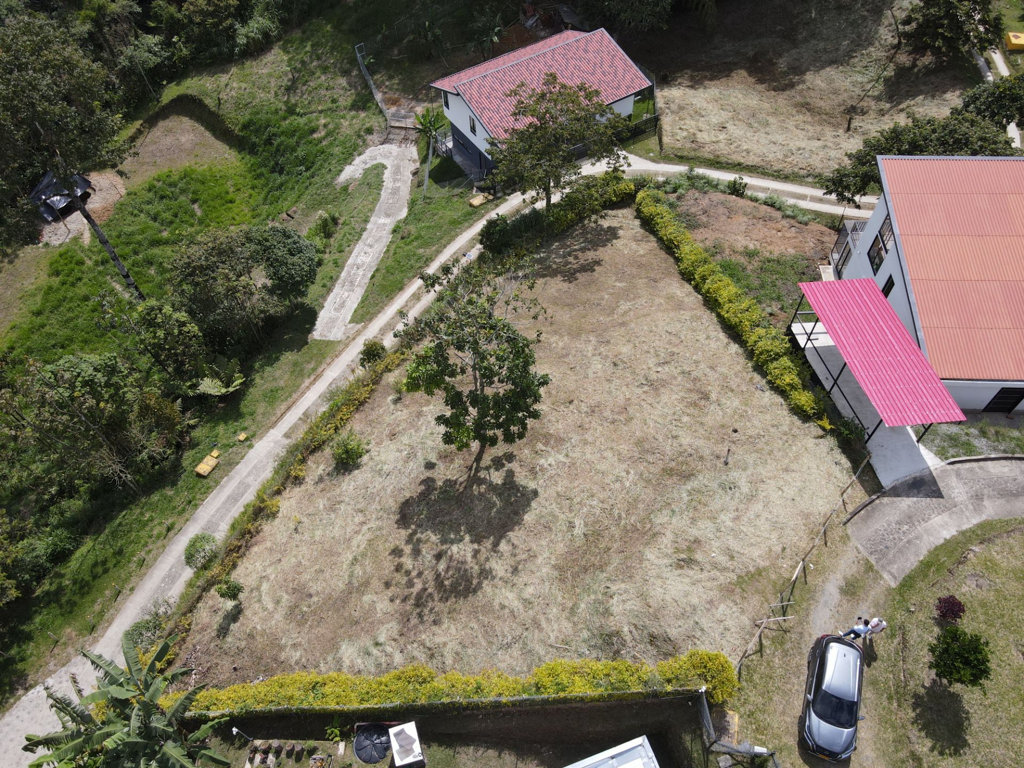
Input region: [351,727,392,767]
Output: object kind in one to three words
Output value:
water tank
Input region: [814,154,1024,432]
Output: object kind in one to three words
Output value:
house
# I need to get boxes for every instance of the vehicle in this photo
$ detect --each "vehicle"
[800,637,866,764]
